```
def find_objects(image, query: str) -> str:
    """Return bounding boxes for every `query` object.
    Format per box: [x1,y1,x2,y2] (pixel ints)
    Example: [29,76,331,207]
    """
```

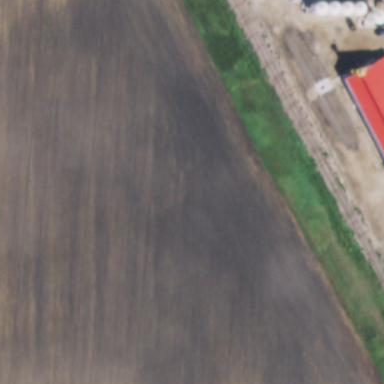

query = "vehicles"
[344,16,356,30]
[374,27,384,34]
